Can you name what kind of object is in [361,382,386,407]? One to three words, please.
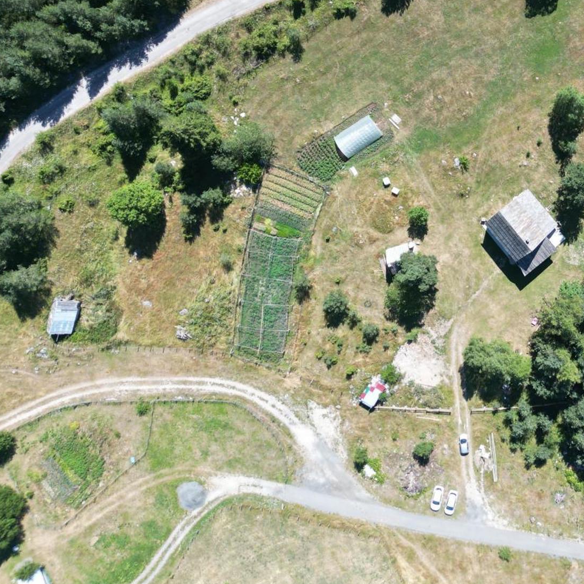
shed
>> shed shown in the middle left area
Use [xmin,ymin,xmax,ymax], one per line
[47,299,87,341]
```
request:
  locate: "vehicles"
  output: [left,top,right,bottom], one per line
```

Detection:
[430,484,443,512]
[444,488,458,516]
[458,432,469,457]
